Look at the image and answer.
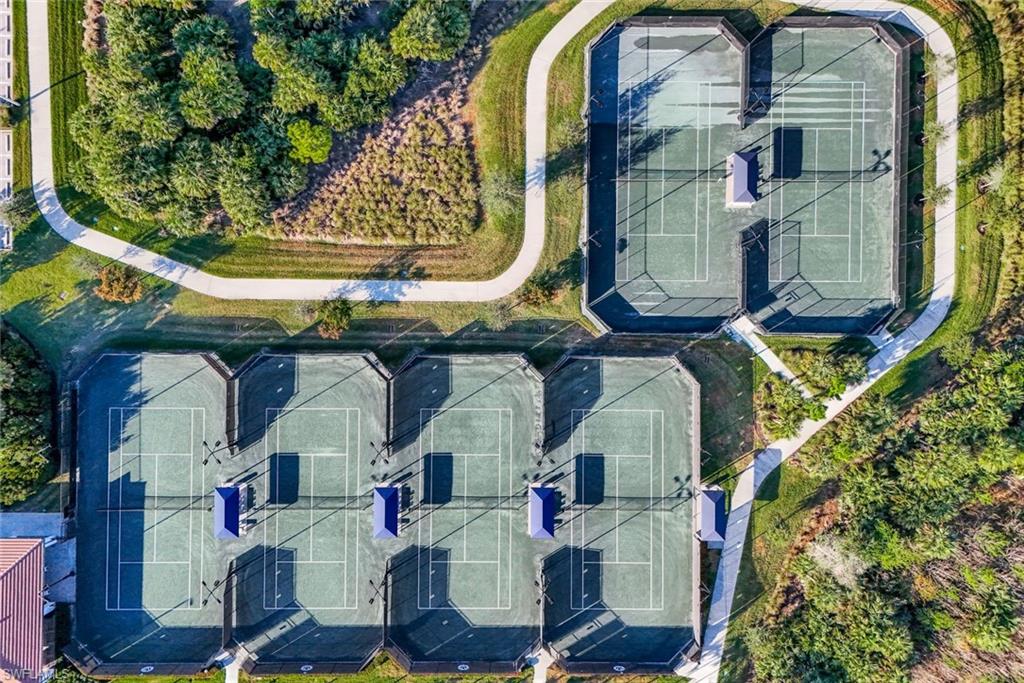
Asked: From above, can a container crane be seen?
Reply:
No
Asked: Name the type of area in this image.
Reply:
sports ground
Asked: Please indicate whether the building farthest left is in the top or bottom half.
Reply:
bottom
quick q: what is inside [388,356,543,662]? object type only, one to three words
tennis court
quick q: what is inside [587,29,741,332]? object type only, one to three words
tennis court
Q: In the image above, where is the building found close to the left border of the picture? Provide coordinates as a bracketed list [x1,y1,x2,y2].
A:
[0,533,62,683]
